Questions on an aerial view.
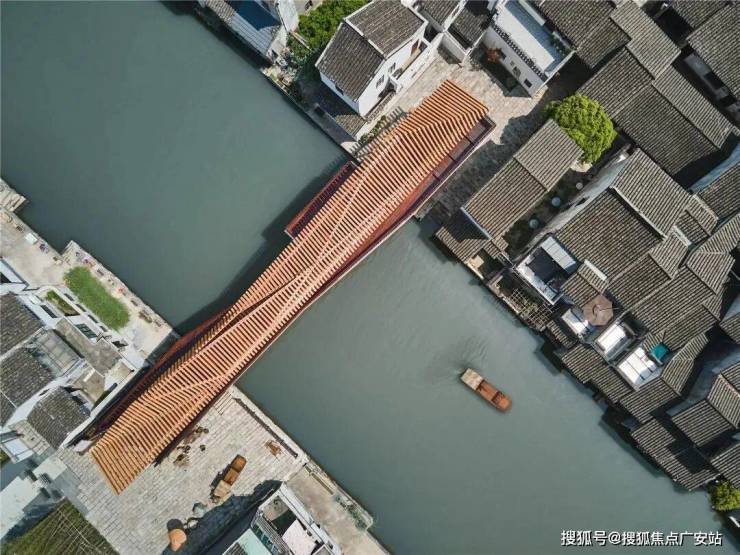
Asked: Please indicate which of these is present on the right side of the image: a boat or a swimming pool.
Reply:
boat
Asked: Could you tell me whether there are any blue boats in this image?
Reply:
No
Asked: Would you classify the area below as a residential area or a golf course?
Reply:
residential area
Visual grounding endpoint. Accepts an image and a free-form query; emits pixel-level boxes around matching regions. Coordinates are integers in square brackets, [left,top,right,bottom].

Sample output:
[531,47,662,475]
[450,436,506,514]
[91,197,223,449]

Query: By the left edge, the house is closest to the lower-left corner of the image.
[0,464,60,542]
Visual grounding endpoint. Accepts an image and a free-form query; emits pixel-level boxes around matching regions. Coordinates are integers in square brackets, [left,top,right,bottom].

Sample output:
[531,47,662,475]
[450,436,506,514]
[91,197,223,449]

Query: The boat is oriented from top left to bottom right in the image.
[457,366,515,410]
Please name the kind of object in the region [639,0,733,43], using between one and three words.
house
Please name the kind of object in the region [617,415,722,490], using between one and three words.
house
